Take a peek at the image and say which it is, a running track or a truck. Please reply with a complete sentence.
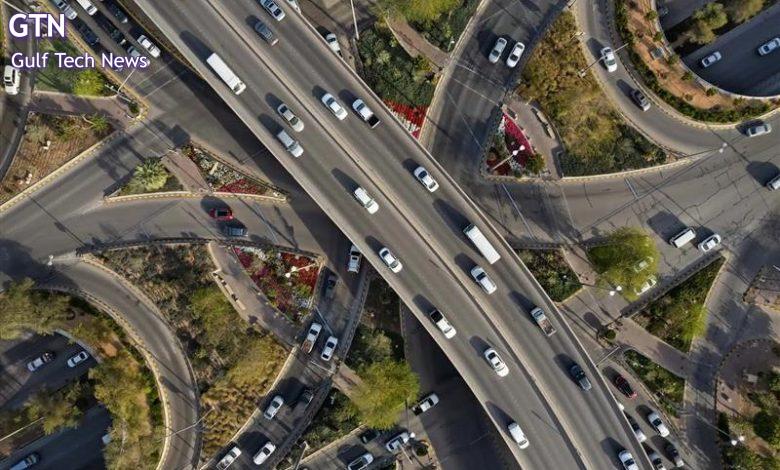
I can see a truck in this picture.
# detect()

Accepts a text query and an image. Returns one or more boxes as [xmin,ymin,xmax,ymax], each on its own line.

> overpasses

[133,0,654,470]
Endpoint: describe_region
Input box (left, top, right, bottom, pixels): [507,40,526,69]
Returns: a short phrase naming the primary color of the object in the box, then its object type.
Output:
white car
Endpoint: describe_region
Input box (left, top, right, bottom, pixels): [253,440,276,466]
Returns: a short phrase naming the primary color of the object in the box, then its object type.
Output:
white car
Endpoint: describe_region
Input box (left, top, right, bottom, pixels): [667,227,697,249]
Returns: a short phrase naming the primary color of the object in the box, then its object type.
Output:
white vehicle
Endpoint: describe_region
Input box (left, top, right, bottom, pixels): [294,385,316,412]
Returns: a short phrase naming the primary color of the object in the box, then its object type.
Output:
black car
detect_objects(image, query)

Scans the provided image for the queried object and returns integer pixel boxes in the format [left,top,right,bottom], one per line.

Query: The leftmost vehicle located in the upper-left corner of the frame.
[2,66,22,94]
